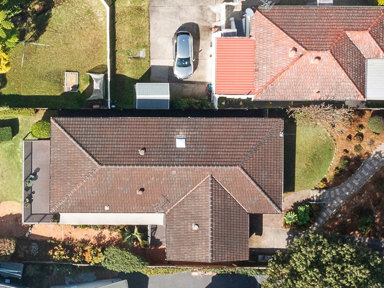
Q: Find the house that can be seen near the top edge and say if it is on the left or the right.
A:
right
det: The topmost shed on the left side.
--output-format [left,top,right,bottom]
[134,81,171,111]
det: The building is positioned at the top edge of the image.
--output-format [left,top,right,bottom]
[215,6,384,102]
